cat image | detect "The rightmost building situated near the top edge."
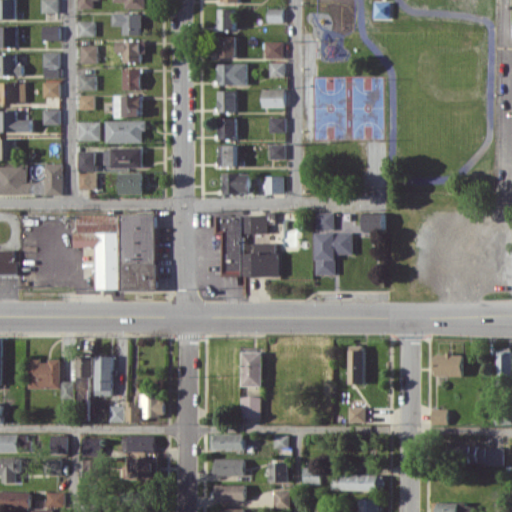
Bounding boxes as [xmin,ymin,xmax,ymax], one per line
[372,0,396,22]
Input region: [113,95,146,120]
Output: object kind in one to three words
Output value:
house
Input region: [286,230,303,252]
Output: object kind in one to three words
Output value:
tent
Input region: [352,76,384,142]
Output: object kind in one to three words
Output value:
basketball court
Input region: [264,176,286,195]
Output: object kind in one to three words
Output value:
building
